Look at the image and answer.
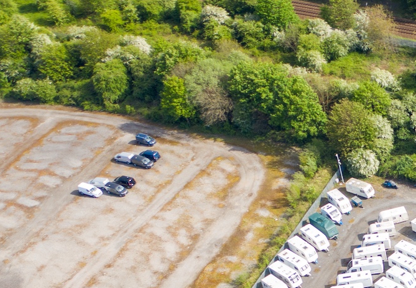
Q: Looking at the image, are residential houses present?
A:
No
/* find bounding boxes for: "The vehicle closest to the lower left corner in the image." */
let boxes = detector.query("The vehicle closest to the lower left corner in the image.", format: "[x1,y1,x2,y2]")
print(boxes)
[78,183,103,198]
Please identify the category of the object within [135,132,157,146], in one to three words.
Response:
vehicle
